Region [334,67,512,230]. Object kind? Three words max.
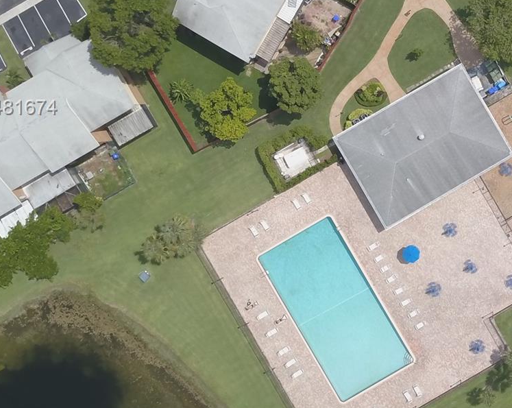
building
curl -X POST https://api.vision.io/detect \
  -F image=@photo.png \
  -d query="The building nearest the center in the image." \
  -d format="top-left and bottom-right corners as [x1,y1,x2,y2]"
[286,147,314,171]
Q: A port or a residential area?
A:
residential area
